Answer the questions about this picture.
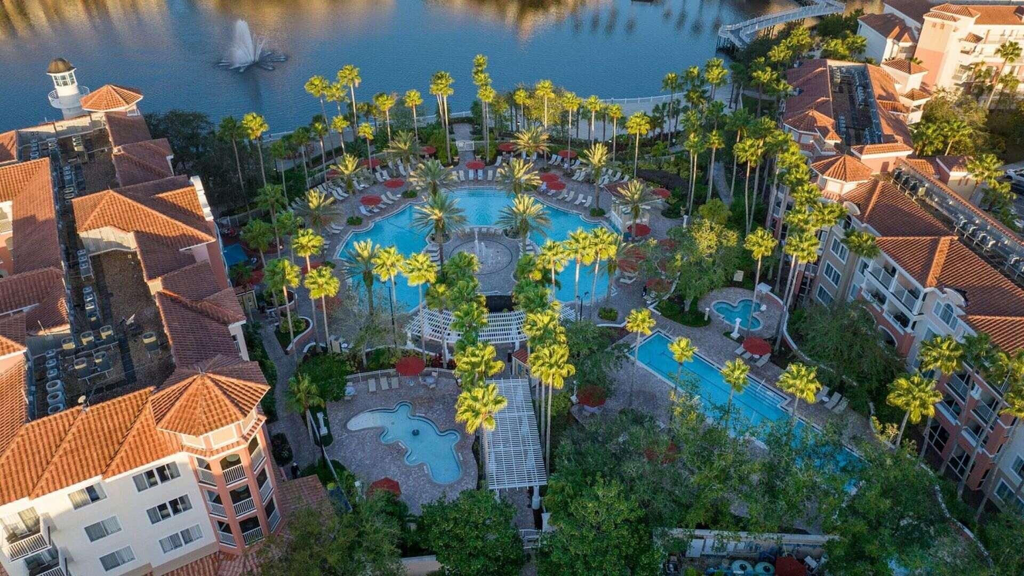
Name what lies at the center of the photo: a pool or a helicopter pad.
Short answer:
pool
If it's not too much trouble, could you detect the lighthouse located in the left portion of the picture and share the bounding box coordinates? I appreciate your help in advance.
[50,56,93,121]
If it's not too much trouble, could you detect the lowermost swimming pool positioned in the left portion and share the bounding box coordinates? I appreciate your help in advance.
[346,401,463,485]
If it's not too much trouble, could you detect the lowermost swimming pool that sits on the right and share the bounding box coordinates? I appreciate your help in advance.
[627,327,877,498]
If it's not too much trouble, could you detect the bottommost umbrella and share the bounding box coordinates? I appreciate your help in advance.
[773,553,807,576]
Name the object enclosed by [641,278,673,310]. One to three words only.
umbrella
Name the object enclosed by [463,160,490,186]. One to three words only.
umbrella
